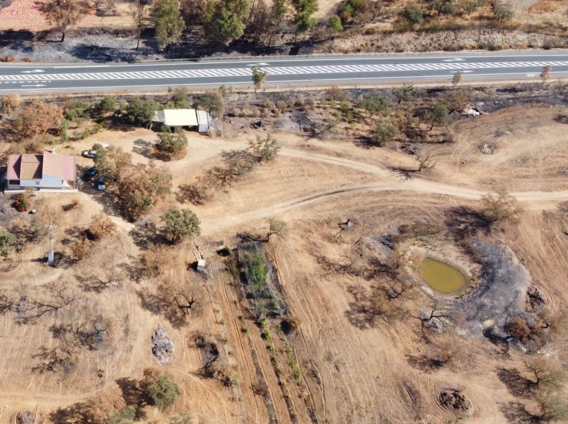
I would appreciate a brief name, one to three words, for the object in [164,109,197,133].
shed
